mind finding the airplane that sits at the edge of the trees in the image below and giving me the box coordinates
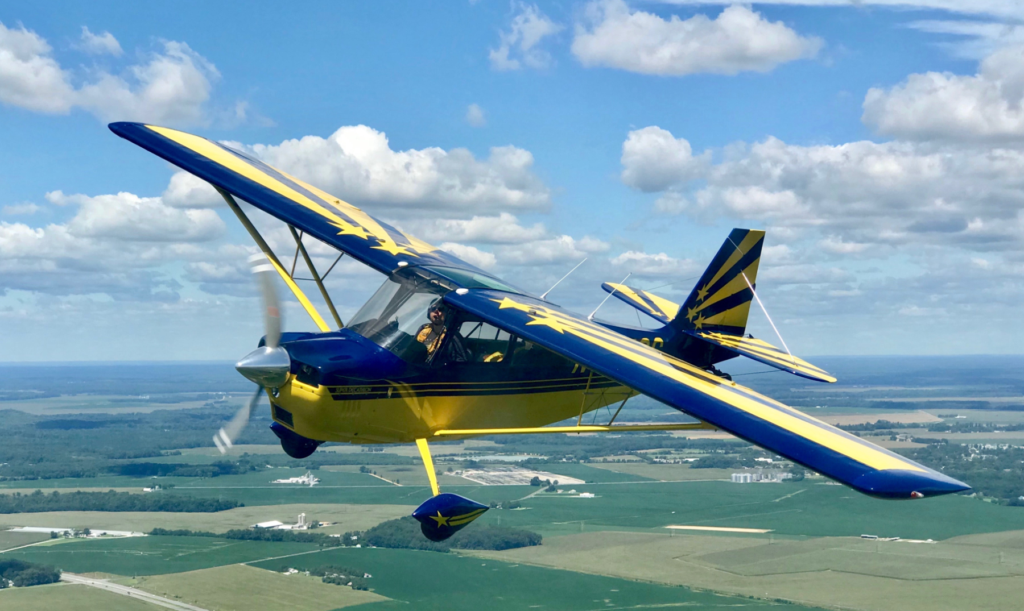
[103,124,973,543]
